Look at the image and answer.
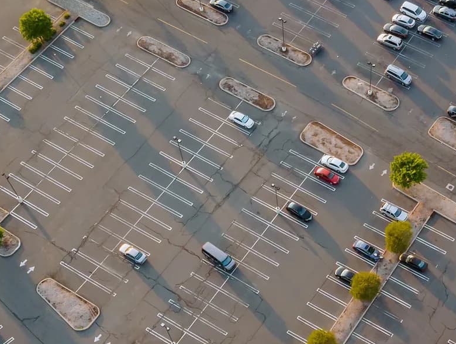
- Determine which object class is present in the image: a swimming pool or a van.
van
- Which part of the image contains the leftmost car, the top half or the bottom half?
bottom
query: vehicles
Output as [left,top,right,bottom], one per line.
[201,242,238,271]
[118,243,149,265]
[330,265,354,285]
[319,154,349,175]
[398,251,430,274]
[227,111,255,130]
[284,200,314,222]
[398,1,426,21]
[390,13,417,30]
[383,64,413,84]
[377,33,403,50]
[352,239,383,262]
[432,5,456,22]
[378,200,409,223]
[208,0,233,13]
[440,0,456,11]
[312,165,342,186]
[415,24,443,41]
[383,23,410,39]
